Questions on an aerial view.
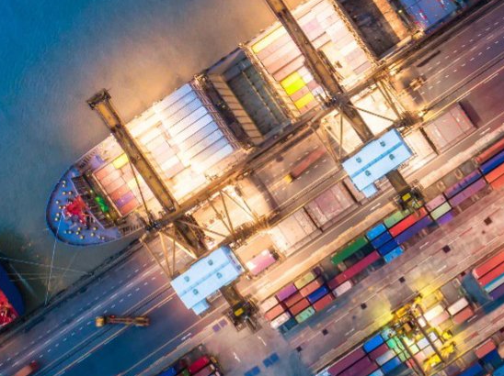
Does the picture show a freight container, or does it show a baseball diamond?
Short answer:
freight container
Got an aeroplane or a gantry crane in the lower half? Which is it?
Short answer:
gantry crane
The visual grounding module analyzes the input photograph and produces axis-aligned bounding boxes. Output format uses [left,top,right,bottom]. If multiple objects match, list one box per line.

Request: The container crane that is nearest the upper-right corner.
[256,0,429,216]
